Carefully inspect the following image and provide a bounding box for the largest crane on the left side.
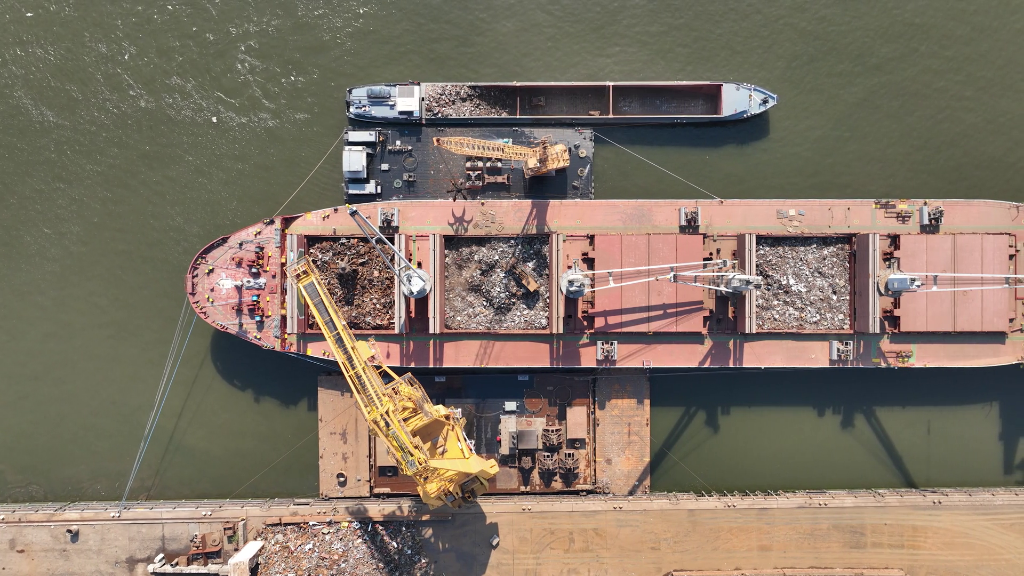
[282,255,500,510]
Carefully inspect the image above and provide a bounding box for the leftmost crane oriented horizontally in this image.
[433,134,571,178]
